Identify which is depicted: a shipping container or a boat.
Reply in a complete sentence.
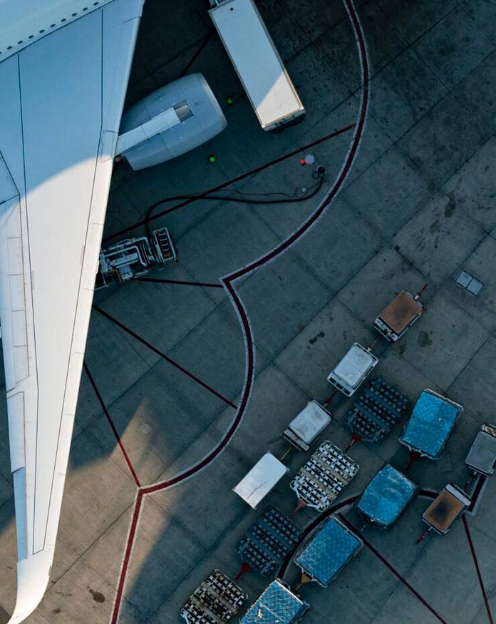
Looking from above, you can make out a shipping container.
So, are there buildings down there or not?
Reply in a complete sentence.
No, there's no building here.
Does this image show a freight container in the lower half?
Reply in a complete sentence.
Yes, I can see a freight container in the lower half.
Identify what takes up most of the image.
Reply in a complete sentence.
The largest share of the image is taken up by paved ground.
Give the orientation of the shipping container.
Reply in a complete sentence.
I'd say the shipping container is aligned at an angle in the picture.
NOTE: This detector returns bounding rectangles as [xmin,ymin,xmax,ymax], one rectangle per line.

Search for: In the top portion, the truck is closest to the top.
[205,0,305,136]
